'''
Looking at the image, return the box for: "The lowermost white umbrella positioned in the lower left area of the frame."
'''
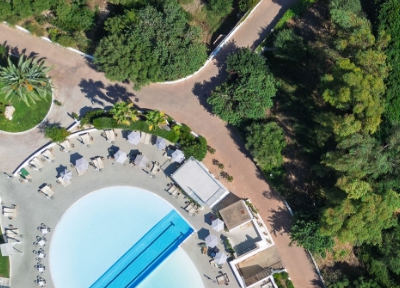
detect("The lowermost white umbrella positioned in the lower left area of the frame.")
[1,241,23,263]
